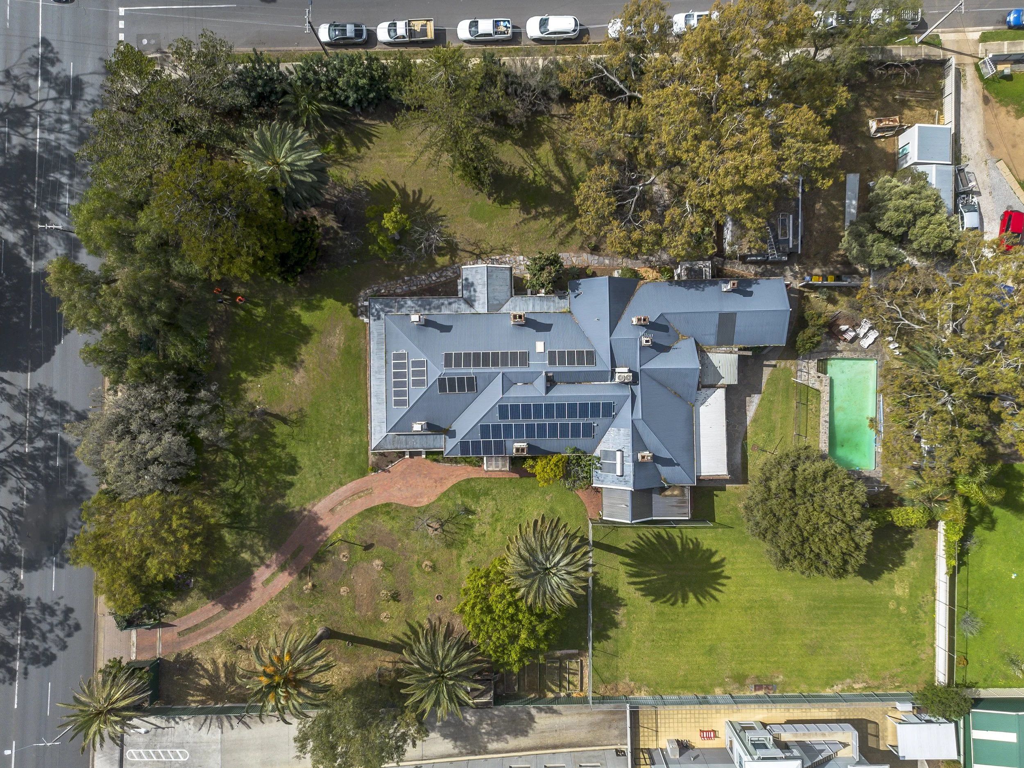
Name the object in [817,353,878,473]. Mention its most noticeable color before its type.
green swimming pool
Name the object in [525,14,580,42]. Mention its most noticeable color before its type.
white car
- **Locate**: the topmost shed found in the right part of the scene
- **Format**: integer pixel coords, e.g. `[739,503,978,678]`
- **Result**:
[898,123,954,172]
